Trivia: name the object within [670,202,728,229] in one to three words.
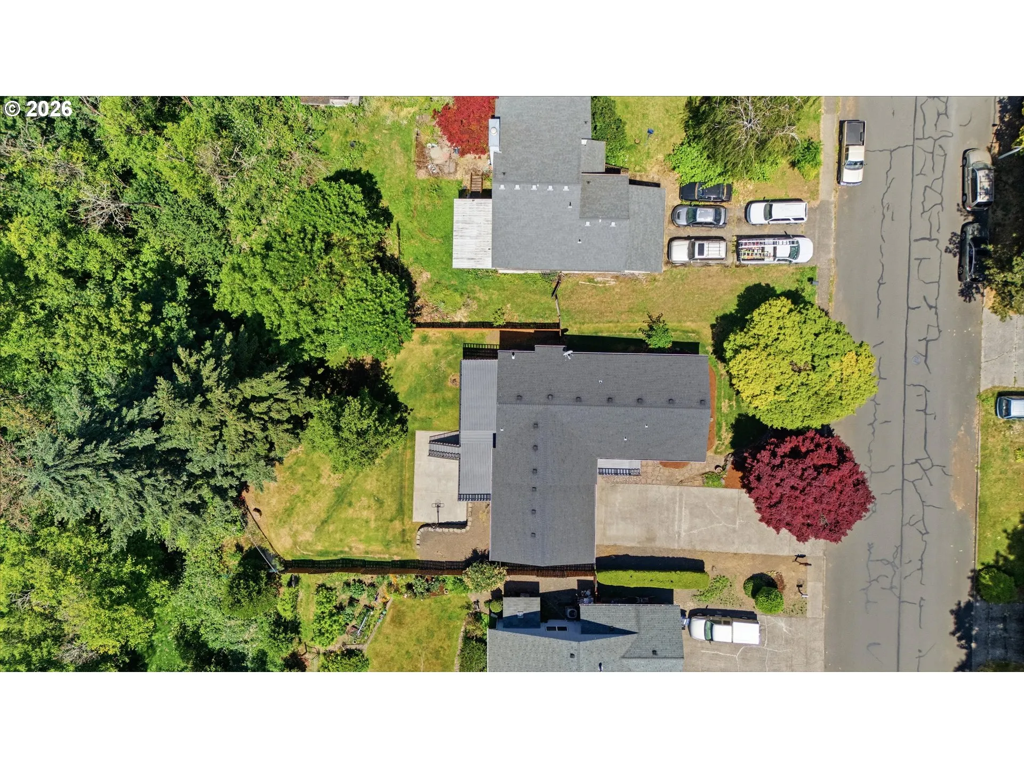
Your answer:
car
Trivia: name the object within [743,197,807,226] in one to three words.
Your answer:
car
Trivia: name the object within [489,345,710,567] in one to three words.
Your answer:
house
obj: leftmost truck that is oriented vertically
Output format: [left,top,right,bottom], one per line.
[837,120,868,187]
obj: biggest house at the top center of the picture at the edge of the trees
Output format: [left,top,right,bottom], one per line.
[488,93,666,275]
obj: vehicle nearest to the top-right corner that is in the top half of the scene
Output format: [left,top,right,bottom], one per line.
[959,152,994,212]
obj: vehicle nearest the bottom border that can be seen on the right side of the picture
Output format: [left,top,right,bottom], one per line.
[686,613,763,644]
